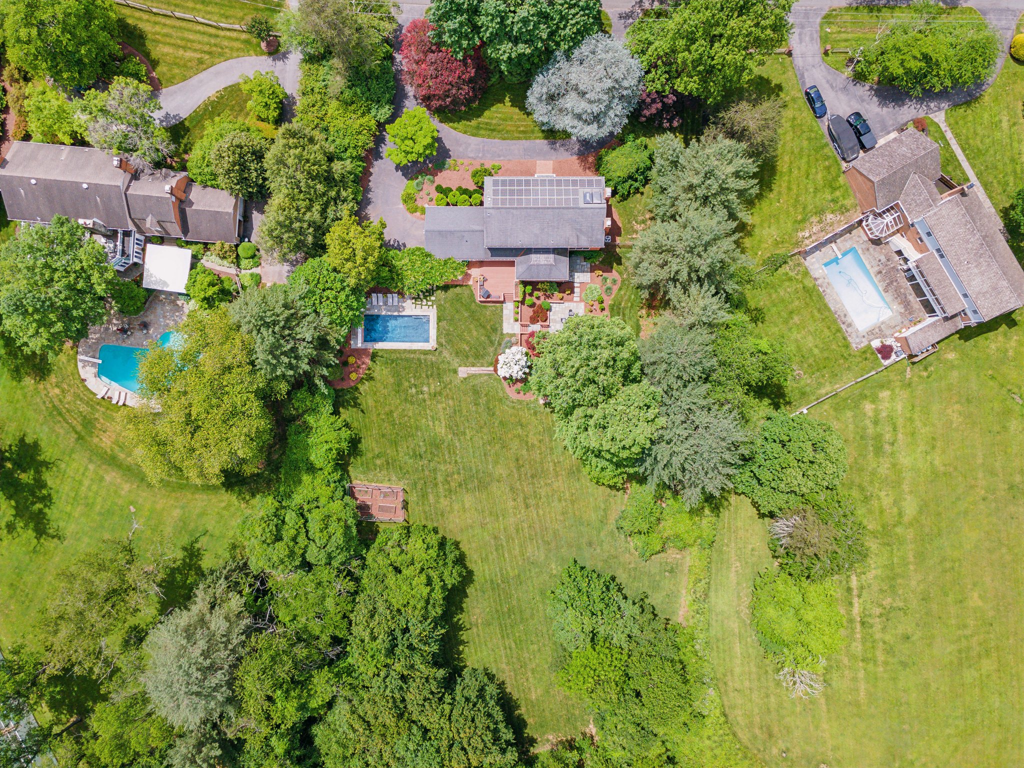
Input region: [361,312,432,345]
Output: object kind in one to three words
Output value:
swimming pool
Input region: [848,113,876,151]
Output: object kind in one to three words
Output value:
truck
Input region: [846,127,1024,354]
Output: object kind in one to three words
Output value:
house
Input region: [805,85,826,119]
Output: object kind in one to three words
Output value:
car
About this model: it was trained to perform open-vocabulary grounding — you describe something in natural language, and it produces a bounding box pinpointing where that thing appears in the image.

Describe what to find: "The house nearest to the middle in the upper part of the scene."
[425,174,611,281]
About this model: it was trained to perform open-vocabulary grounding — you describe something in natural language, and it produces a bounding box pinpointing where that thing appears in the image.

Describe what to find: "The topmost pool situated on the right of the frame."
[819,243,896,336]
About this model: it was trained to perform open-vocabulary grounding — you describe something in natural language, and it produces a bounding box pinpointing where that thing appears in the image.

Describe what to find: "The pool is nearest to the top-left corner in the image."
[97,330,204,403]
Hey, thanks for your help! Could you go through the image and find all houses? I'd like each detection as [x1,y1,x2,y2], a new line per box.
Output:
[425,174,611,281]
[0,141,246,245]
[846,127,1024,354]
